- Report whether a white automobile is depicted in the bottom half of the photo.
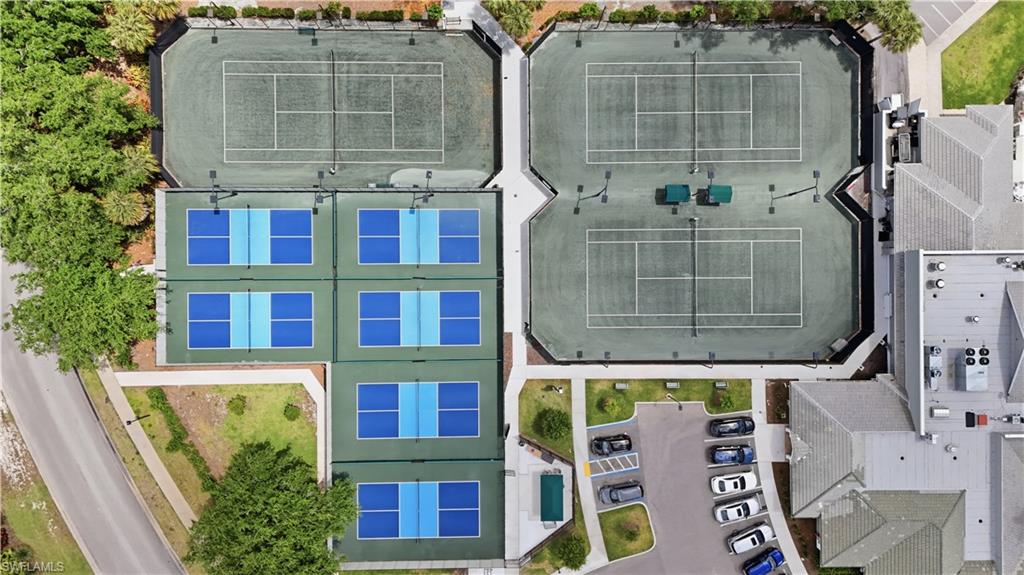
Yes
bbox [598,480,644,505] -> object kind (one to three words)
car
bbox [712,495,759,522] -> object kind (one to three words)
car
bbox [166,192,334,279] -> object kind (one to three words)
sports court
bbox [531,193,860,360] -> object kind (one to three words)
tennis court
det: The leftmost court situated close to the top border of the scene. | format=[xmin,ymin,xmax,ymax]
[162,28,501,187]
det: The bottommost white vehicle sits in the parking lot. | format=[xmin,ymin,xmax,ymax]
[727,523,773,553]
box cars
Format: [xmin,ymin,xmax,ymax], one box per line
[741,545,787,575]
[727,523,773,553]
[710,470,756,493]
[708,415,753,437]
[708,443,753,465]
[598,480,644,505]
[588,432,634,457]
[712,495,759,522]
